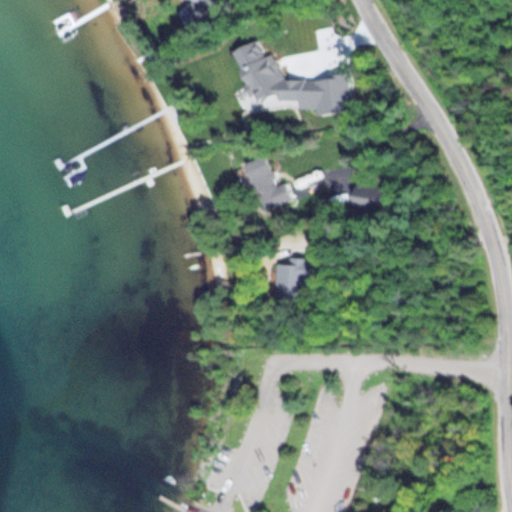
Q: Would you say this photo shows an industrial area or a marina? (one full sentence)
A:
The area seen from above is a marina.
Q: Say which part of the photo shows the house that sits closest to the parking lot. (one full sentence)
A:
The house that sits closest to the parking lot is in the center part of the image.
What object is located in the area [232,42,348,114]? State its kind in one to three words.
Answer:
house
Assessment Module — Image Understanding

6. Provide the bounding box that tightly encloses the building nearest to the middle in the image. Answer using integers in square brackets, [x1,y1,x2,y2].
[276,258,306,291]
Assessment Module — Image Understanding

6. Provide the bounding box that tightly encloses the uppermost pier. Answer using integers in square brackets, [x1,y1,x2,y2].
[53,2,112,39]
